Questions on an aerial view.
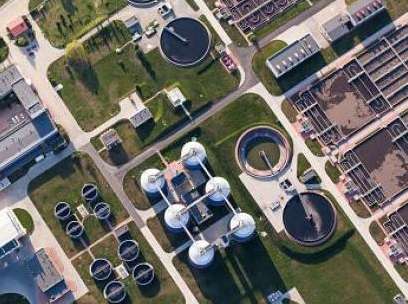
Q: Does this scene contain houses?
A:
Yes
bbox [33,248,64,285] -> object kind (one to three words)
house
